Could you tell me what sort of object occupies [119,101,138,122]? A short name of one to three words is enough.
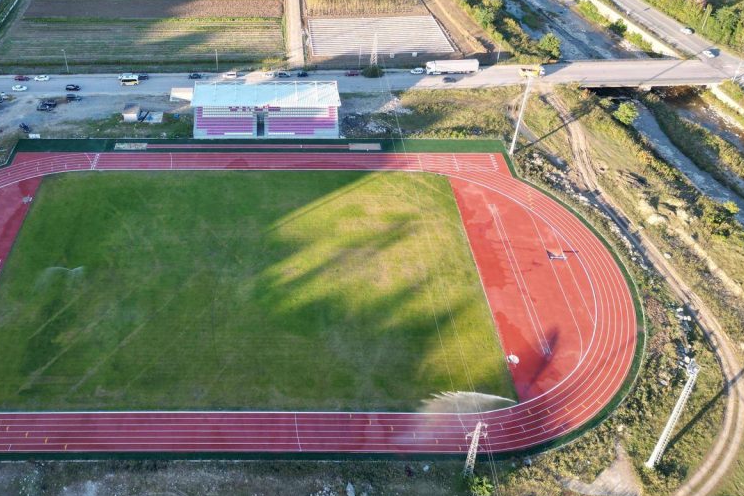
shed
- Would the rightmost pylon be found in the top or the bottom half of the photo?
bottom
